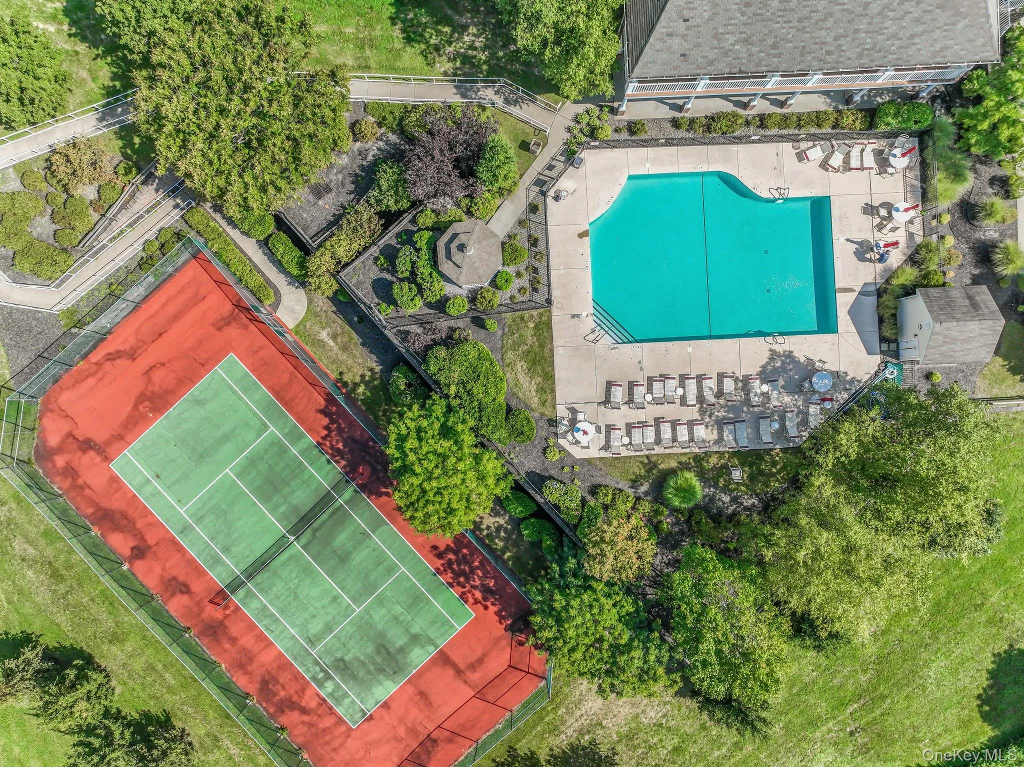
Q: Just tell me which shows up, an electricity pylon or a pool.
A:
pool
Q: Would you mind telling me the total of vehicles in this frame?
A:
0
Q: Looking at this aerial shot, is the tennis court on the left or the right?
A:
left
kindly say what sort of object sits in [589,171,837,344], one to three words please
swimming pool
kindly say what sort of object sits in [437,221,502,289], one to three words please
gazebo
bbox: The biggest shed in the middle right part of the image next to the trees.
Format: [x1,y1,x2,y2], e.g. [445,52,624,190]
[898,284,1003,365]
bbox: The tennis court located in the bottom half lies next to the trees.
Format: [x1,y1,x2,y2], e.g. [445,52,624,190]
[31,252,548,767]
